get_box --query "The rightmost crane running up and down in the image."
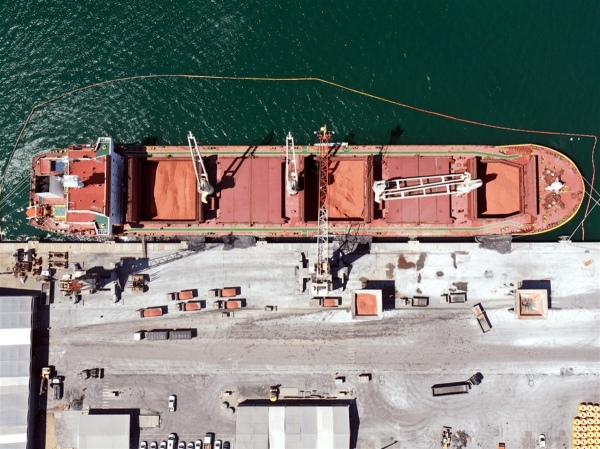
[301,121,347,298]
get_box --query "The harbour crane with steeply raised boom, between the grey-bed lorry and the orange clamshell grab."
[55,261,118,306]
